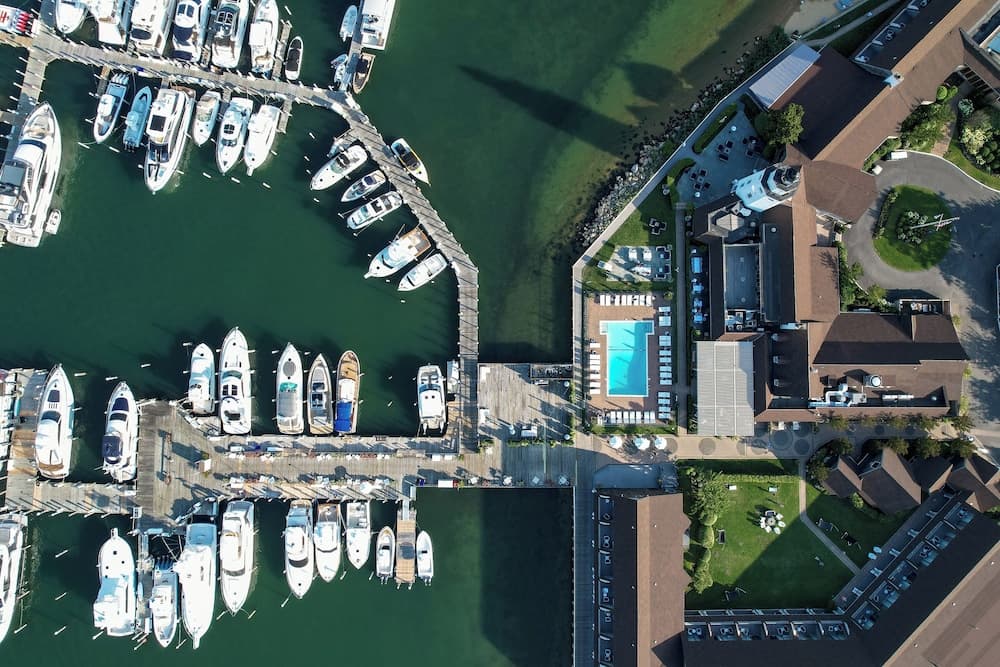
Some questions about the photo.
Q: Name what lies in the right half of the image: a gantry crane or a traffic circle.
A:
traffic circle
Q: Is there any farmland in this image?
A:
No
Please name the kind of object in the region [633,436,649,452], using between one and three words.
umbrella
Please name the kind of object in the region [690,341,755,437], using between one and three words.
building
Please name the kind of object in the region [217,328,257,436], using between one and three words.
boat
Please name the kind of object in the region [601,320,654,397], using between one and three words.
swimming pool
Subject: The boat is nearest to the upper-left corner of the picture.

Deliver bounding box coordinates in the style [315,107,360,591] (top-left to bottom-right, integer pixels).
[0,6,27,34]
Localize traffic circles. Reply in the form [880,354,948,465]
[873,186,954,271]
